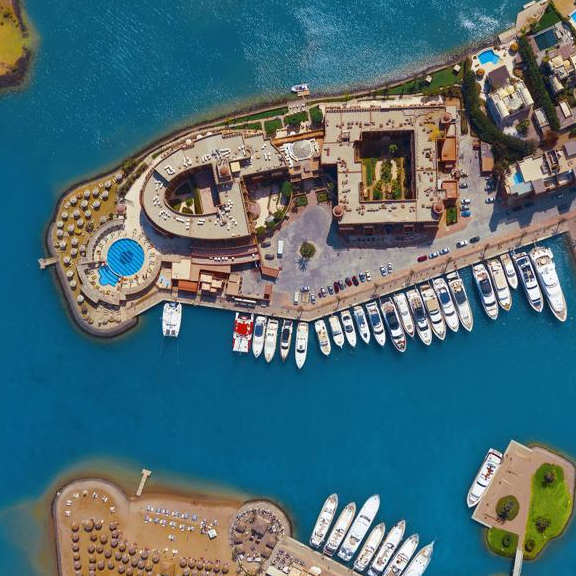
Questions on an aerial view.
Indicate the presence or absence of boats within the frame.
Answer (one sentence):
Yes, the image includes a boat.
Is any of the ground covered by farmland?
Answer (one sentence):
No, farmland can't be seen anywhere here.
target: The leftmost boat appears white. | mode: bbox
[161,303,182,337]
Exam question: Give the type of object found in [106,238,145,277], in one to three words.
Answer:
swimming pool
